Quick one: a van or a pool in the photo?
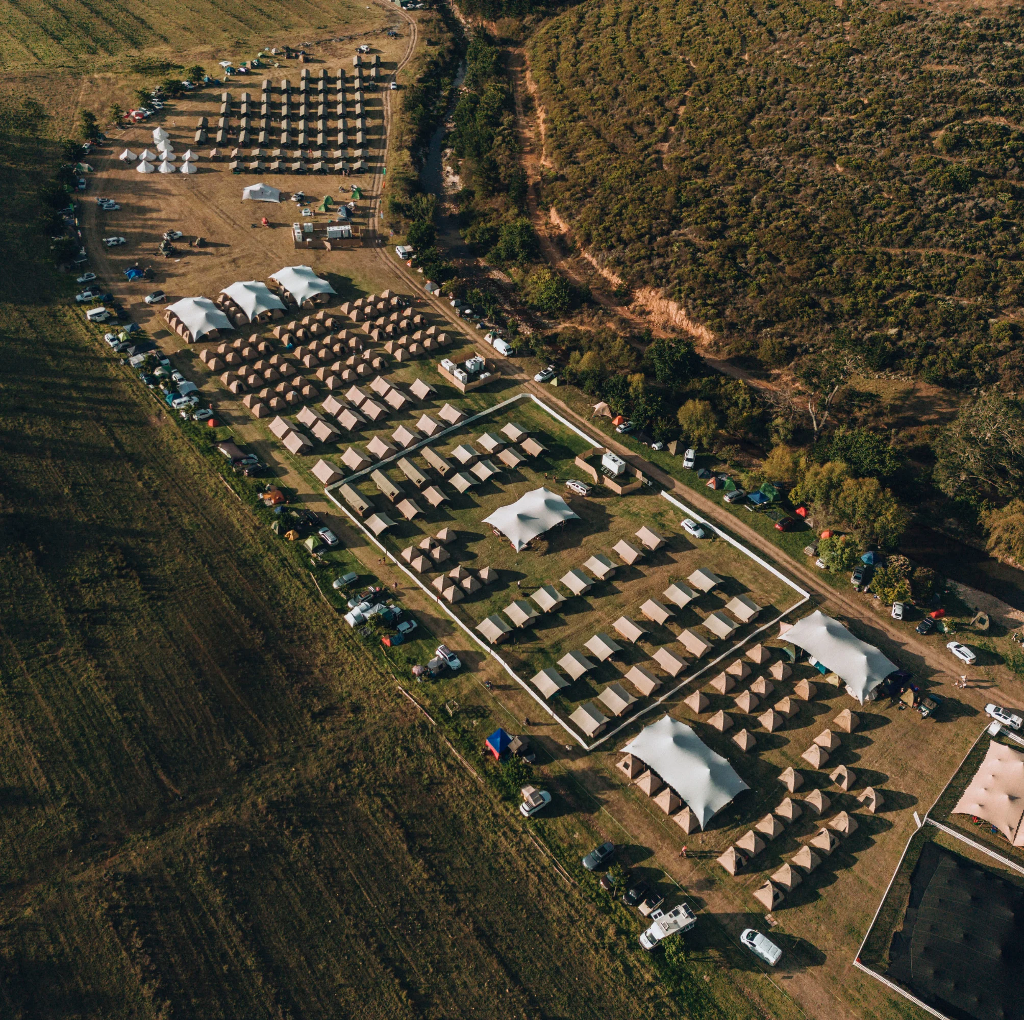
van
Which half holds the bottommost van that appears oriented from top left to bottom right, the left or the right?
right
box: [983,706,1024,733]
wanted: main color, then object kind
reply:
white truck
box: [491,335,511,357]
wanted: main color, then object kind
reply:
white vehicle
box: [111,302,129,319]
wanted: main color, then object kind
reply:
black car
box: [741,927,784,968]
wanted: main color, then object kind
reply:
white van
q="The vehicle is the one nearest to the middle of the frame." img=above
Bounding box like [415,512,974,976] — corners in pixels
[564,480,594,498]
